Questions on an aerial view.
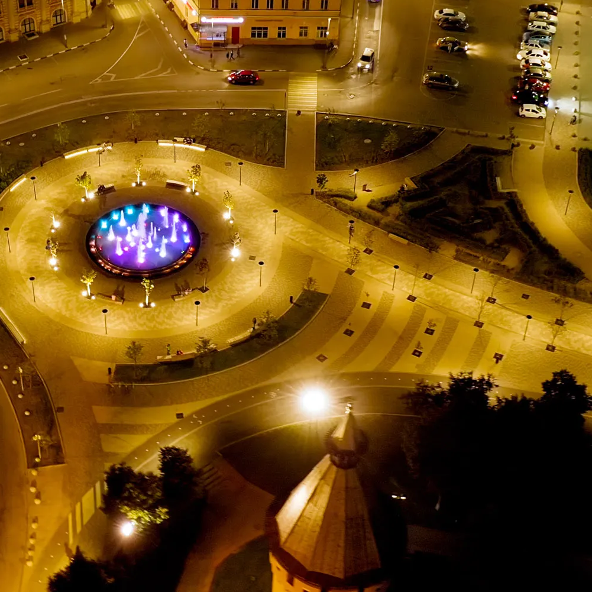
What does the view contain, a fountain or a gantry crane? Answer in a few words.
fountain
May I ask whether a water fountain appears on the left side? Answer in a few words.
Yes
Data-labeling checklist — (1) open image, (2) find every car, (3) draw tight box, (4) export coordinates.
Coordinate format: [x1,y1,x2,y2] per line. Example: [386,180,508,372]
[528,2,559,14]
[518,103,547,119]
[518,48,551,61]
[433,8,465,21]
[521,76,549,92]
[528,10,559,24]
[425,73,458,89]
[358,47,375,72]
[527,20,557,33]
[513,86,548,104]
[439,18,470,31]
[524,29,551,42]
[228,71,262,85]
[520,57,553,70]
[521,38,551,51]
[520,67,553,81]
[437,38,469,53]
